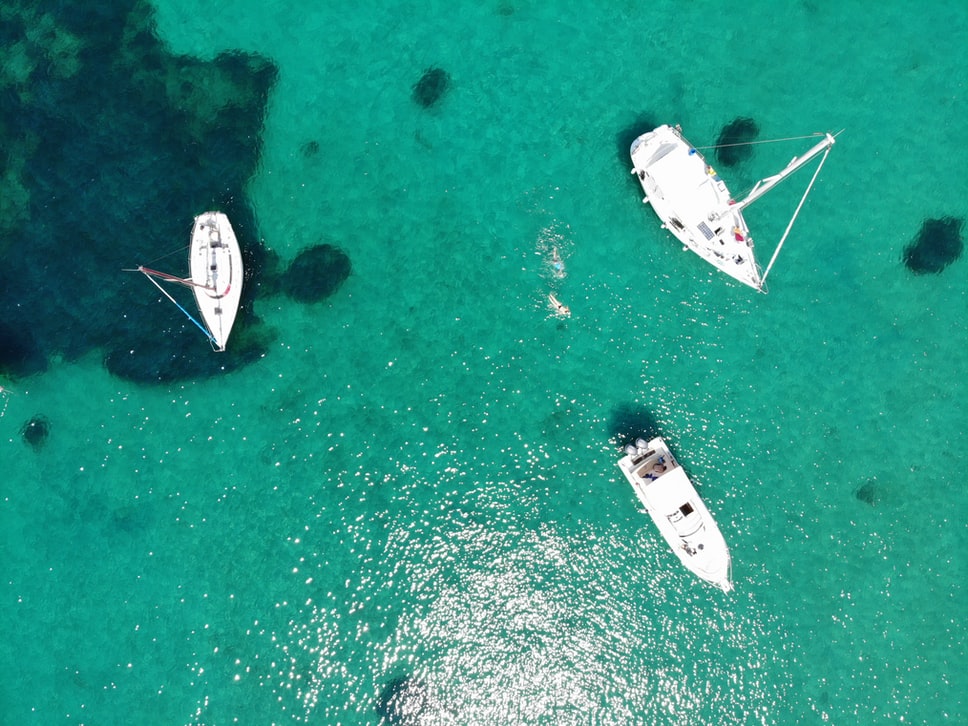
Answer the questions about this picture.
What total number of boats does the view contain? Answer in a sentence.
I count 3 boats.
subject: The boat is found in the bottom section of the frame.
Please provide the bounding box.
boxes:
[616,434,735,597]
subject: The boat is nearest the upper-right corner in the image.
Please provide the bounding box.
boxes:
[628,117,841,298]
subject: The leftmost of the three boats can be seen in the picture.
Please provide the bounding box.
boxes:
[123,211,244,354]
